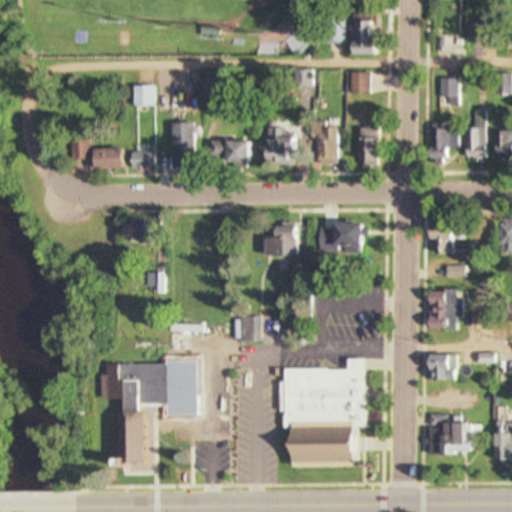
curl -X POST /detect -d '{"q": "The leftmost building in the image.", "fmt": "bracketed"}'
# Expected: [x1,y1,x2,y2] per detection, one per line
[72,140,94,162]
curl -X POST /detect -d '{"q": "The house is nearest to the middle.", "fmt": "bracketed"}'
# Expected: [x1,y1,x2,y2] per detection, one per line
[264,222,297,256]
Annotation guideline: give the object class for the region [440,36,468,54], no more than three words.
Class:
building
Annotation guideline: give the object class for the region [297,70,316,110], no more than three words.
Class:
building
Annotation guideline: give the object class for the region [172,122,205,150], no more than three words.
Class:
house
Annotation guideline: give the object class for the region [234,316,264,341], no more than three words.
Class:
shed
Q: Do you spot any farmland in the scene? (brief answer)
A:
No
